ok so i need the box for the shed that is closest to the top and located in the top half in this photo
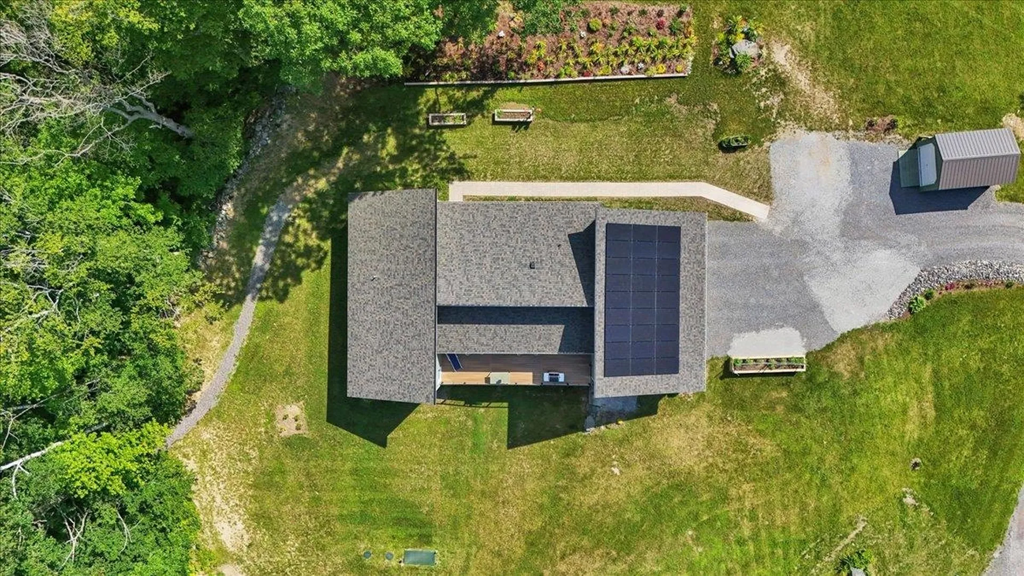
[898,128,1020,192]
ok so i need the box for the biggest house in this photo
[347,188,708,404]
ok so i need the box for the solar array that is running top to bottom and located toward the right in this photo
[604,224,681,377]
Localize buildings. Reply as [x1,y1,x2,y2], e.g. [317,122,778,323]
[347,188,708,404]
[898,128,1020,192]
